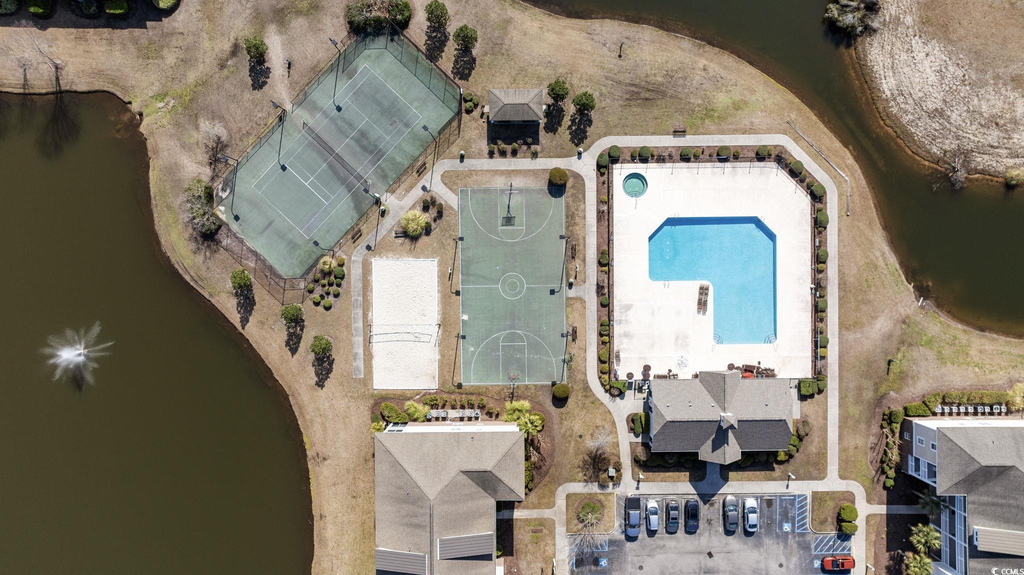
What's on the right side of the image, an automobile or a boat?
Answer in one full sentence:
What appears on the right side of the image is an automobile.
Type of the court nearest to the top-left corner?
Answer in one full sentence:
Specifically, the court nearest to the top-left corner is a tennis court.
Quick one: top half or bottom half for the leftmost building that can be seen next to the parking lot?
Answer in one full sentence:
It is in the bottom half that the leftmost building that can be seen next to the parking lot appears.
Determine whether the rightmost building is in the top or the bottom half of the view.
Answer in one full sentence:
The rightmost building sits in the bottom half of the picture.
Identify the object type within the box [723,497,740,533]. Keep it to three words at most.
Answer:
car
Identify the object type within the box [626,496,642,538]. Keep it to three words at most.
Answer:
vehicle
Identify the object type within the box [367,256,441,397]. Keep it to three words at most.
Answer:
sports court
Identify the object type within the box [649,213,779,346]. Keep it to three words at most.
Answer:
swimming pool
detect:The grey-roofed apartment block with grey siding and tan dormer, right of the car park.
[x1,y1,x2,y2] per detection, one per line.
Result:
[903,418,1024,575]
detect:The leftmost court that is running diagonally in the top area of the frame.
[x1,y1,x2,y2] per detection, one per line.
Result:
[215,30,458,277]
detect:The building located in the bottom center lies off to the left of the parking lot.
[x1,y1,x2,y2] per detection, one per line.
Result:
[373,422,525,575]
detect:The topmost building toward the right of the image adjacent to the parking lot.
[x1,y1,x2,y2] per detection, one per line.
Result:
[649,371,796,463]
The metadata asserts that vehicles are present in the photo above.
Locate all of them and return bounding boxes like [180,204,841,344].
[645,500,660,532]
[723,497,740,533]
[822,557,858,575]
[744,500,761,533]
[626,496,642,538]
[685,500,701,533]
[666,502,681,534]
